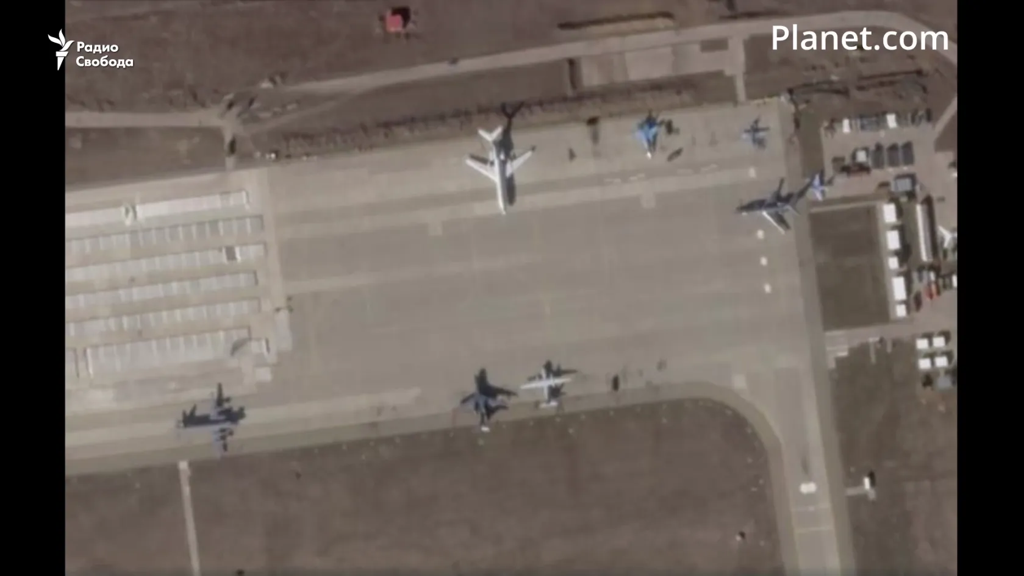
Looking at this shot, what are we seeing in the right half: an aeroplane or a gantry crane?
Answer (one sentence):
You can see an aeroplane in the right half.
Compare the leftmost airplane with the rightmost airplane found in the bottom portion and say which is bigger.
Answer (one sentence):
Of the two, the leftmost airplane is larger and the rightmost airplane found in the bottom portion is the smaller one.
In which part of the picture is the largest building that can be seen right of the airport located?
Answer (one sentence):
The largest building that can be seen right of the airport appears toward the right of the photo.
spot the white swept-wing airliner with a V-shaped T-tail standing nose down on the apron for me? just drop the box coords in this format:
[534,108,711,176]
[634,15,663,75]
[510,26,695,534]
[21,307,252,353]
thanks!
[459,128,524,214]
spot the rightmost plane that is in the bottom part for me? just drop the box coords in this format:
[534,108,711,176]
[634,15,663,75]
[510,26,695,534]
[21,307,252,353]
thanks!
[519,368,570,405]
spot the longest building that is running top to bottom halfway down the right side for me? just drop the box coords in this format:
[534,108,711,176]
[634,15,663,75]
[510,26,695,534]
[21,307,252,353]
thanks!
[915,202,935,262]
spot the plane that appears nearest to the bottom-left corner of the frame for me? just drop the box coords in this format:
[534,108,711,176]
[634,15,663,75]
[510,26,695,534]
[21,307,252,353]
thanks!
[176,391,240,457]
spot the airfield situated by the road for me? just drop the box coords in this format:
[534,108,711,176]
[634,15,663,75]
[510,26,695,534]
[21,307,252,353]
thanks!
[0,96,855,576]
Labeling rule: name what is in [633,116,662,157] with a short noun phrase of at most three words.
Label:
airplane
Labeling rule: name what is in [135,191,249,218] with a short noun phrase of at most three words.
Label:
shed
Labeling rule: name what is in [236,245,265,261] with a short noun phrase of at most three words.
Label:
shed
